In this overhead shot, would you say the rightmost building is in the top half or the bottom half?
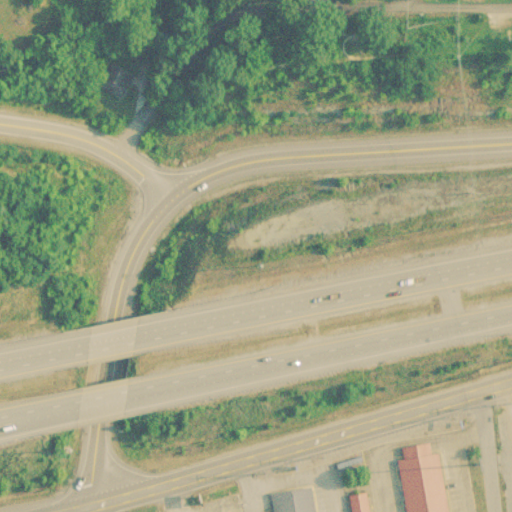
bottom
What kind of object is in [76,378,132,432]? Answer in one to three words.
overpass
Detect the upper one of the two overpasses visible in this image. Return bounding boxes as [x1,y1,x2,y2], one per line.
[85,316,140,368]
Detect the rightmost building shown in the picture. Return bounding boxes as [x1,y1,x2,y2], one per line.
[399,442,446,512]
